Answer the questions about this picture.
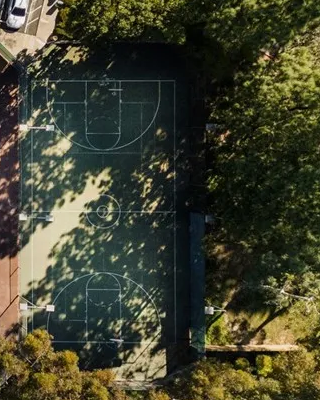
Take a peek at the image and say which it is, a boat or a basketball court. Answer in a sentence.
Looking from above, you can make out a basketball court.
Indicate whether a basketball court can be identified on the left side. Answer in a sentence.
Yes, a basketball court appears on the left side.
